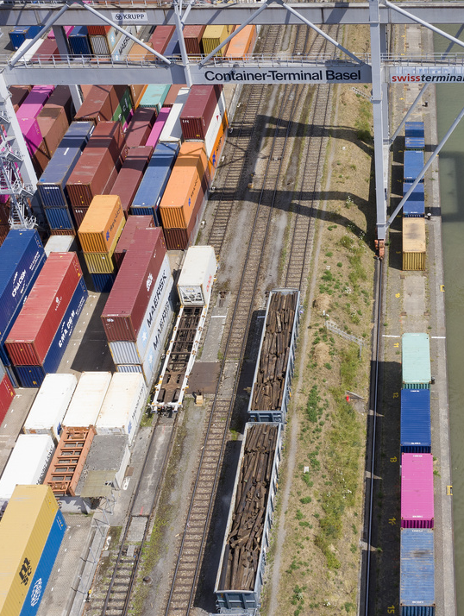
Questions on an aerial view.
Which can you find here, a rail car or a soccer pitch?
rail car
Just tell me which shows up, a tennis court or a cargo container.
cargo container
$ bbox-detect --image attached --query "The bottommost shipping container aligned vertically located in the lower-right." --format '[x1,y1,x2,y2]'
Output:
[399,528,436,615]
